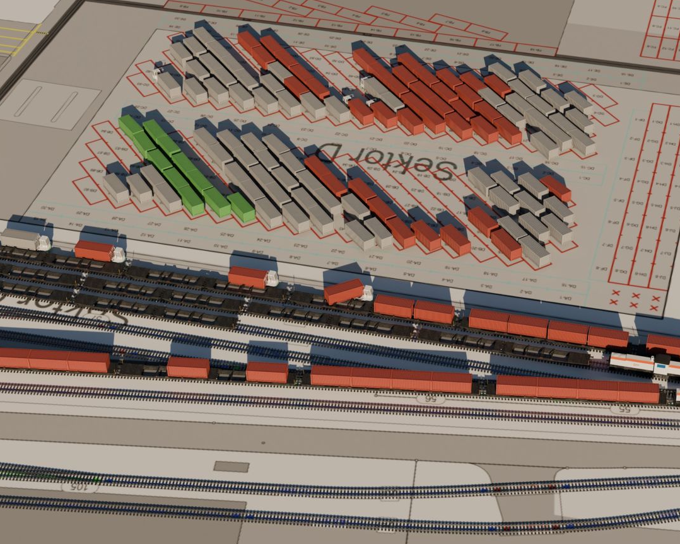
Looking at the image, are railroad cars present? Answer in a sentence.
Yes, a railroad car is visible in the scene.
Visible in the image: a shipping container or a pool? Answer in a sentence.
This aerial view contains a shipping container.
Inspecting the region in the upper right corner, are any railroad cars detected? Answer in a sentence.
No, there's no railroad car to be seen in the upper right corner.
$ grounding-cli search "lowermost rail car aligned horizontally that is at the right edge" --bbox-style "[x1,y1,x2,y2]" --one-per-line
[481,381,667,404]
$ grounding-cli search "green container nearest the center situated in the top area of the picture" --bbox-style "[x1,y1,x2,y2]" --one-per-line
[228,192,257,224]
